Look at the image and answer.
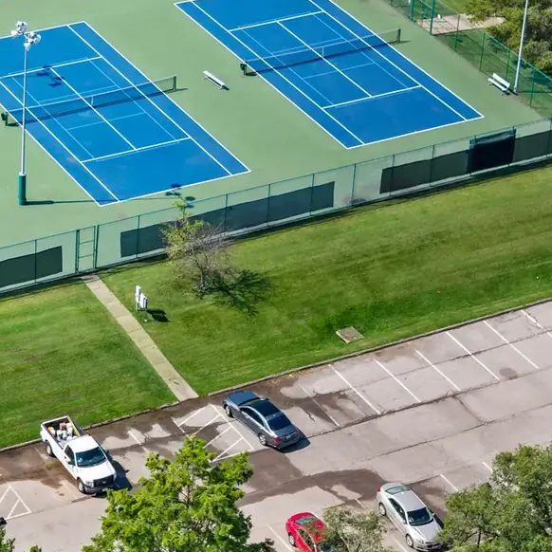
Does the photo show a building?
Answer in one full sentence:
No, I can't see a single building in this photo.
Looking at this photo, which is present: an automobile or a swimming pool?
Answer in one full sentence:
There is an automobile in the scene.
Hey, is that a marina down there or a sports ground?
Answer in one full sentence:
This looks like a sports ground.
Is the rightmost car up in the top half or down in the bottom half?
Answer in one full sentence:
The bottom half of the photo is where the rightmost car is.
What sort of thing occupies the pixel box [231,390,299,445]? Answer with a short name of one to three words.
car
